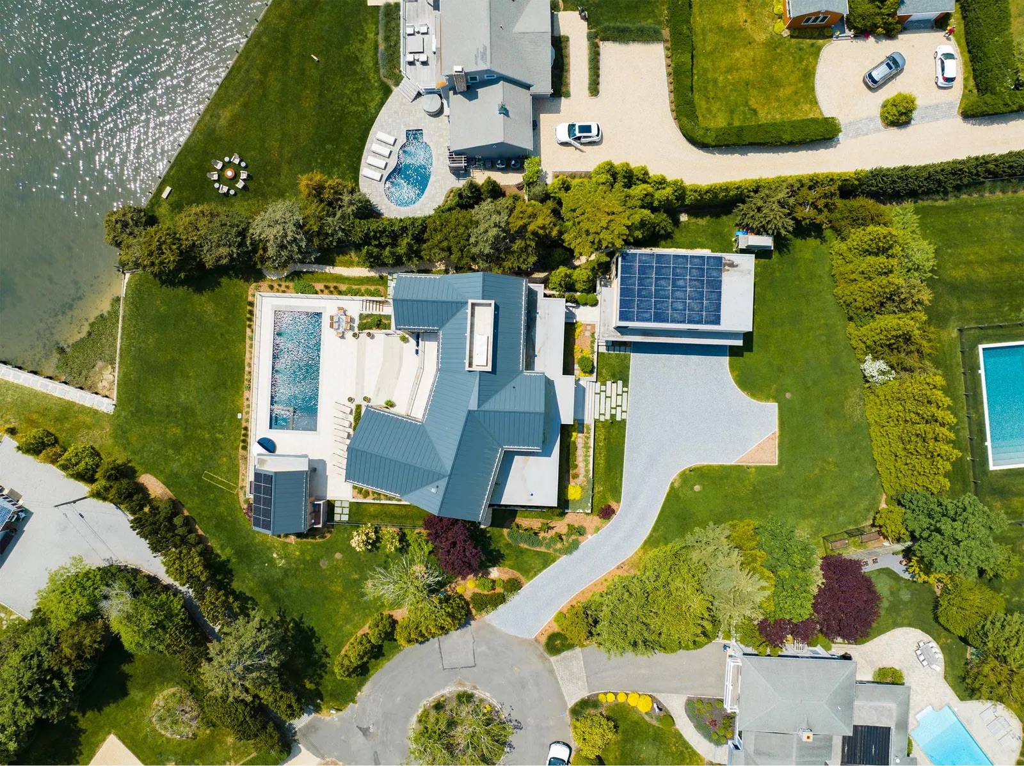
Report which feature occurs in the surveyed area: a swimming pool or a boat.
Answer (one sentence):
There is a swimming pool in the scene.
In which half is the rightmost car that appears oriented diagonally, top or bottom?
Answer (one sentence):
The rightmost car that appears oriented diagonally sits in the top half of the picture.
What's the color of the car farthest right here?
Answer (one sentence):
From above, the car farthest right appears white.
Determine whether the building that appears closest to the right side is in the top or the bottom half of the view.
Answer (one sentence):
You can find the building that appears closest to the right side in the top half.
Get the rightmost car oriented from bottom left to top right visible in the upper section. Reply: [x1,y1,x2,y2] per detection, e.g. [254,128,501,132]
[858,50,904,92]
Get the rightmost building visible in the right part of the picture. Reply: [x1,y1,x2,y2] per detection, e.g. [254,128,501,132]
[896,0,955,31]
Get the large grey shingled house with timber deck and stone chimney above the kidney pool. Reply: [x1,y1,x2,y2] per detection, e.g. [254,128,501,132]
[440,0,560,163]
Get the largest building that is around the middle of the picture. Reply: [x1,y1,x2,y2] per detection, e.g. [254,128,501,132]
[345,271,595,522]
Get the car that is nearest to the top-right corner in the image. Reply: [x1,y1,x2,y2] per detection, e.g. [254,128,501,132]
[928,47,953,91]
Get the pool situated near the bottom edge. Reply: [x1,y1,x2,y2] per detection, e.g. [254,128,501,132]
[910,705,999,766]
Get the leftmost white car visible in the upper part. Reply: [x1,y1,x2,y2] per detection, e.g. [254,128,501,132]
[554,118,600,148]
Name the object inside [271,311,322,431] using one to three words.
swimming pool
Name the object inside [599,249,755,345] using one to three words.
building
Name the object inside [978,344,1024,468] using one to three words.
swimming pool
